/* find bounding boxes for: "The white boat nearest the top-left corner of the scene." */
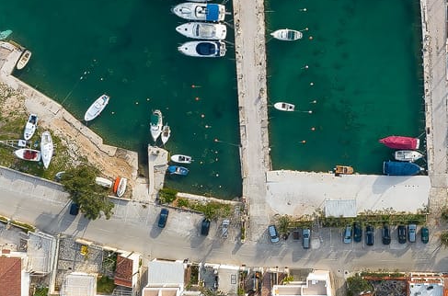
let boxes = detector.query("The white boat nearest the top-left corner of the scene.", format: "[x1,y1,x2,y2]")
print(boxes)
[19,48,32,68]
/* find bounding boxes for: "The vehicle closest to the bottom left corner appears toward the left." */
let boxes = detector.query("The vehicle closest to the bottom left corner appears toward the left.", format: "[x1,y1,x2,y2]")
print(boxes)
[67,201,81,218]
